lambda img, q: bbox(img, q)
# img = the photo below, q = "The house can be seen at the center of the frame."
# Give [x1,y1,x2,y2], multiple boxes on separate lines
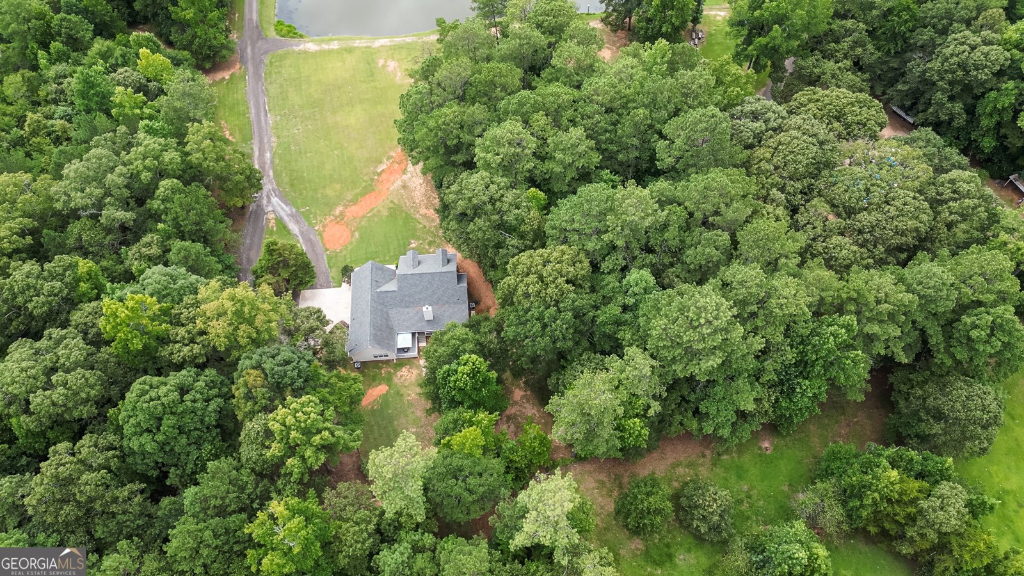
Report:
[344,248,470,365]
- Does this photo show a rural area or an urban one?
rural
